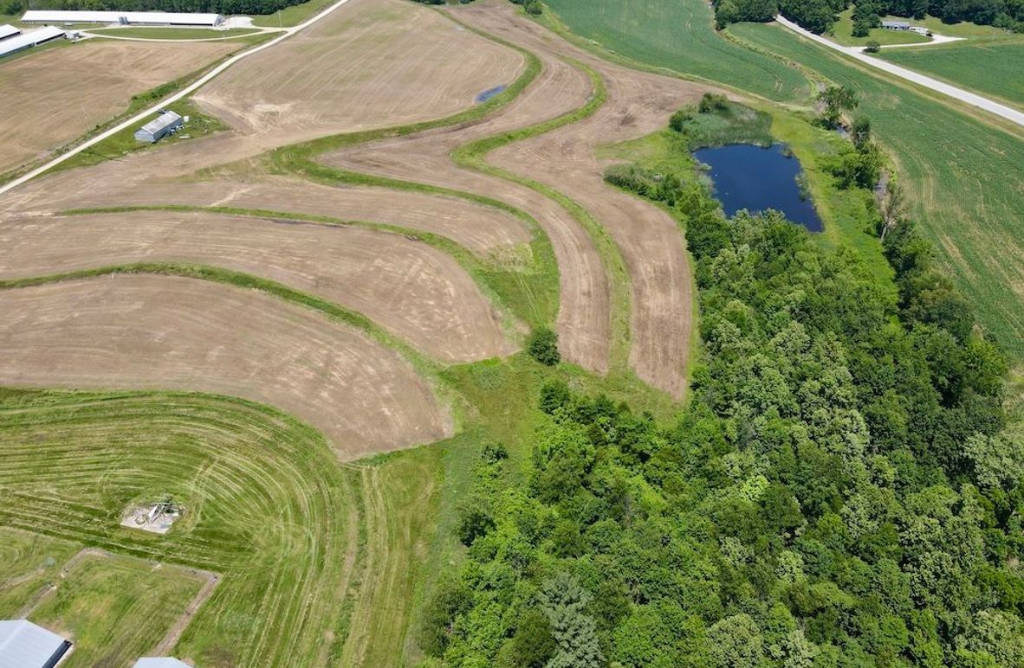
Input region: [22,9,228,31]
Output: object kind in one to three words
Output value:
barn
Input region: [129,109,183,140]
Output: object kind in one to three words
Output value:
shed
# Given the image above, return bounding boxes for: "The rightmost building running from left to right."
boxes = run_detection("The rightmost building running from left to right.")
[875,17,913,34]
